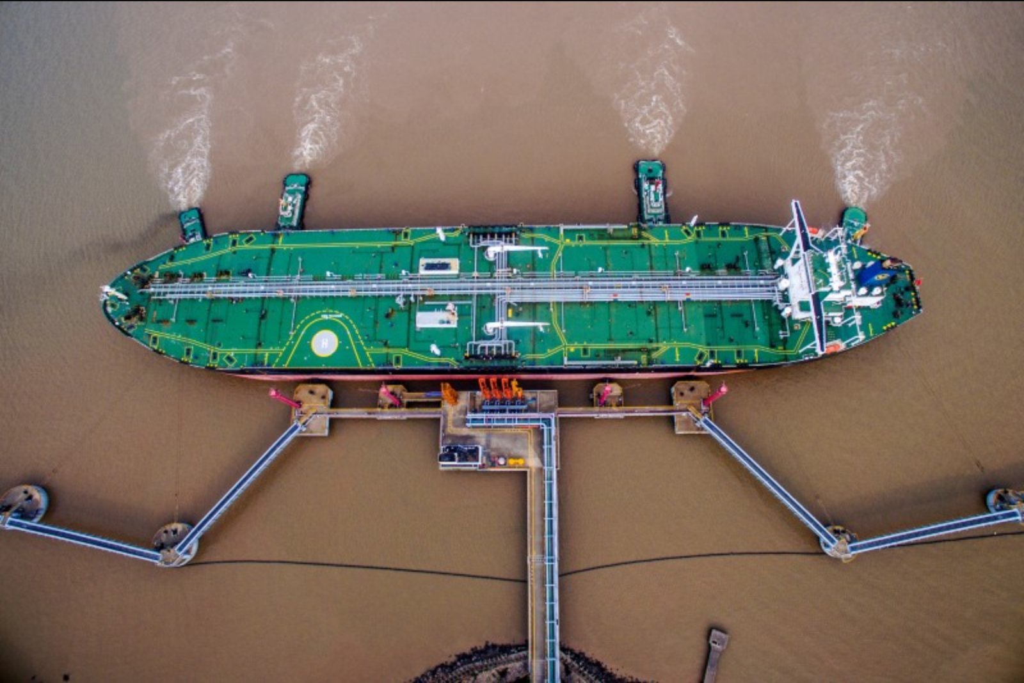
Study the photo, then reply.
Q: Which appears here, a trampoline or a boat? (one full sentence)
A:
Of the two, only a boat appears.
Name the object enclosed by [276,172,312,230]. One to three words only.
boat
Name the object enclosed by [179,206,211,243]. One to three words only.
boat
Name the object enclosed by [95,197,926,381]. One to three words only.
ship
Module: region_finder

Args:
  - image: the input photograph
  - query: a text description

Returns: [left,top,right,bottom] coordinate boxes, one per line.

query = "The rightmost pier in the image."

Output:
[703,629,729,683]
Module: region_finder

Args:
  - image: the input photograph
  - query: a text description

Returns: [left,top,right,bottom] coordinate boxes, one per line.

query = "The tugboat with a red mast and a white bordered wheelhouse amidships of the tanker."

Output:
[635,160,669,224]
